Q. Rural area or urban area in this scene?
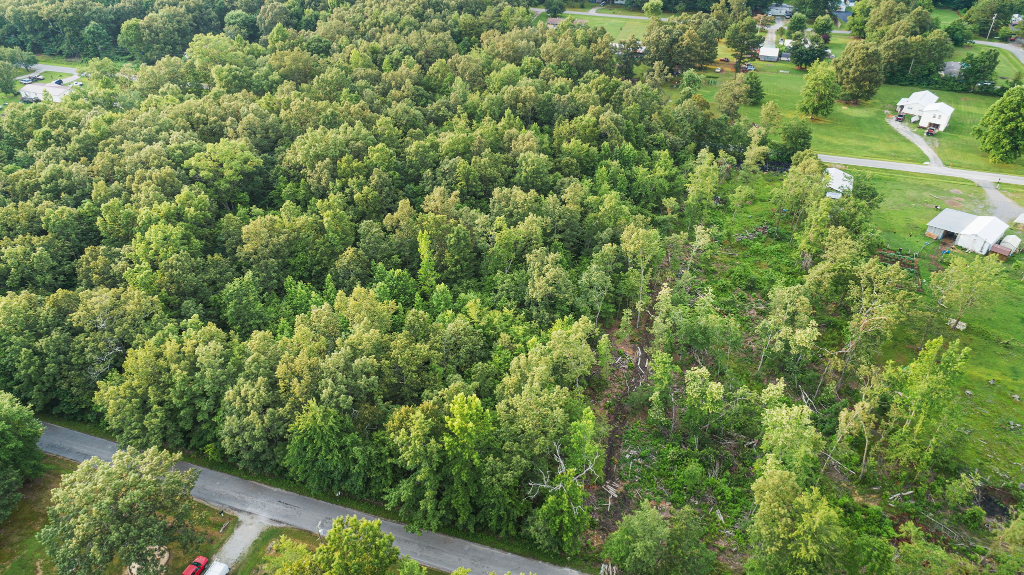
rural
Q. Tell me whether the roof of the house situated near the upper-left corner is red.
No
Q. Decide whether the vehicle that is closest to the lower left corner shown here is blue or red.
red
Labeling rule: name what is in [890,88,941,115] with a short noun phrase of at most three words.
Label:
house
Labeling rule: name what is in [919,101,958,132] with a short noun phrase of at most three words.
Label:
building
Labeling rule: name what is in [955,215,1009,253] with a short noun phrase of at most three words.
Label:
barn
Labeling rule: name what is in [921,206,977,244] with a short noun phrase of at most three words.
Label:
shed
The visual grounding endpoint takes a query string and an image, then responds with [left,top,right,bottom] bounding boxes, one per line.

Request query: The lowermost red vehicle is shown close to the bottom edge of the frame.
[176,555,211,575]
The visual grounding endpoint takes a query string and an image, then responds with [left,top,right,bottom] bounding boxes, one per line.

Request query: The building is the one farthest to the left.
[12,83,76,104]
